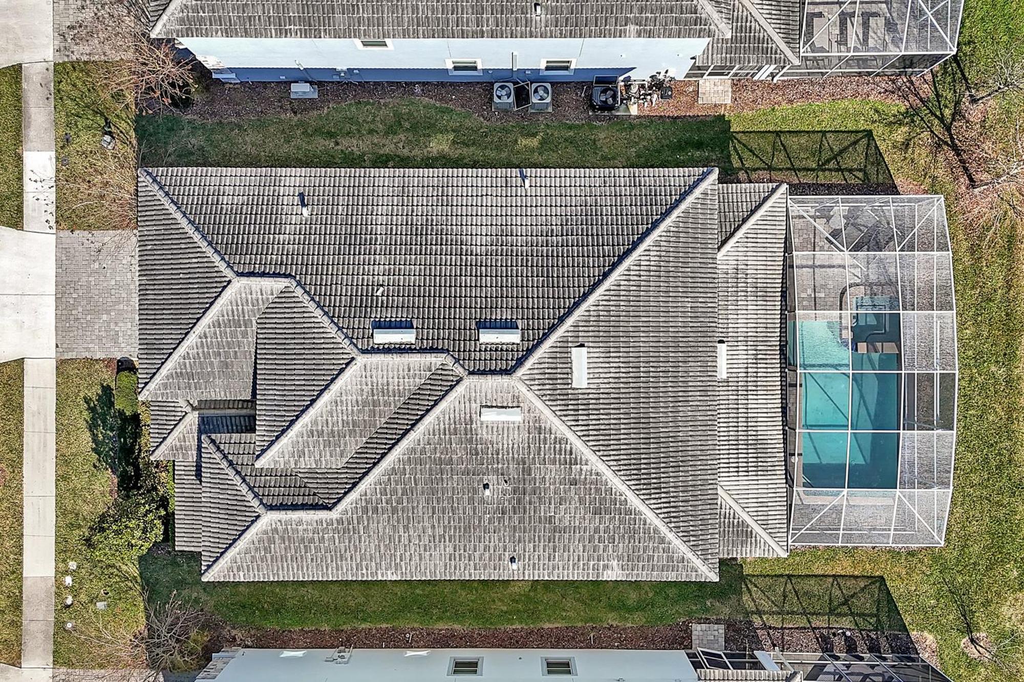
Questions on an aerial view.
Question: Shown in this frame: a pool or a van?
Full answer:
I can see a pool in this picture.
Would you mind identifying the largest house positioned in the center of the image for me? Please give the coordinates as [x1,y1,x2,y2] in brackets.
[135,166,789,584]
